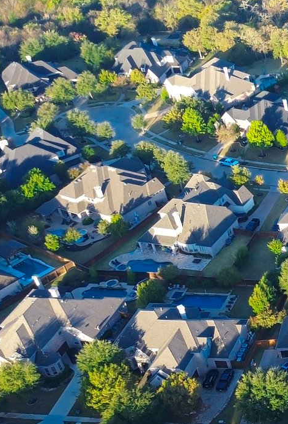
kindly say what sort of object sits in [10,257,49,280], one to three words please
swimming pool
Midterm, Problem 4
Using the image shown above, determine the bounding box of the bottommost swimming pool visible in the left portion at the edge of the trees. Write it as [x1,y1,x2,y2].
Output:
[81,277,130,299]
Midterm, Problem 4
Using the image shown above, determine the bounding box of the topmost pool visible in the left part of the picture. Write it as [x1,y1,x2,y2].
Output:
[50,226,91,244]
